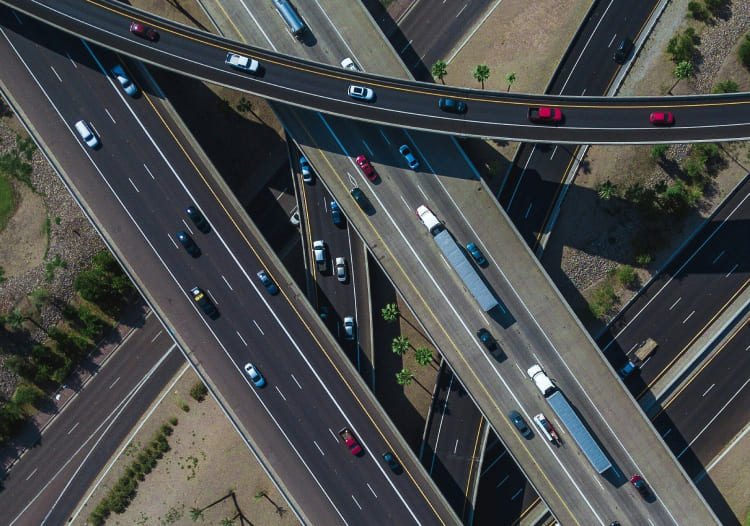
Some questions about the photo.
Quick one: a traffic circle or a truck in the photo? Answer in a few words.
truck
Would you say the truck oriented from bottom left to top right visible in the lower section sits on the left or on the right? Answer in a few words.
right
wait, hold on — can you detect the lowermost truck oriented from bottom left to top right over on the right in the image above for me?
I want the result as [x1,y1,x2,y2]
[616,337,656,380]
